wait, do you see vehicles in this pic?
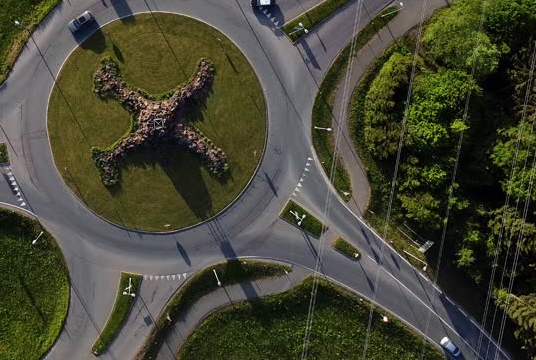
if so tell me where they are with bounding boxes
[67,9,96,34]
[438,334,462,360]
[251,0,276,9]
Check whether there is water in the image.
No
